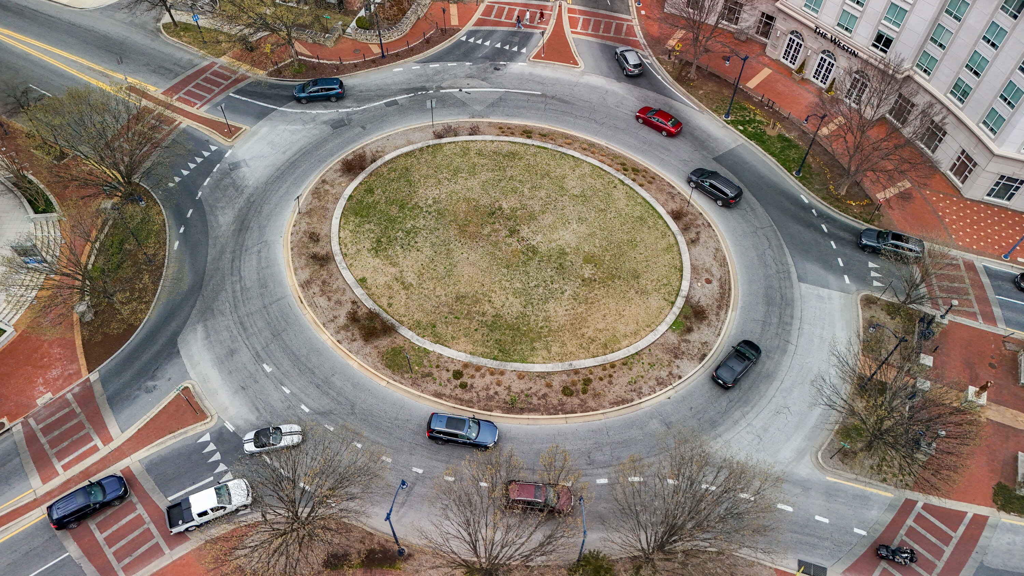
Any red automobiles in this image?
Yes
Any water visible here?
No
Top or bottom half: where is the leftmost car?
bottom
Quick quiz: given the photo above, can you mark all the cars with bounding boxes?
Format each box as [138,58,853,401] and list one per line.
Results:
[40,474,129,536]
[863,229,931,265]
[634,106,685,139]
[294,78,344,104]
[686,168,745,210]
[614,47,645,79]
[244,419,304,455]
[710,338,765,392]
[424,411,499,452]
[501,477,573,514]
